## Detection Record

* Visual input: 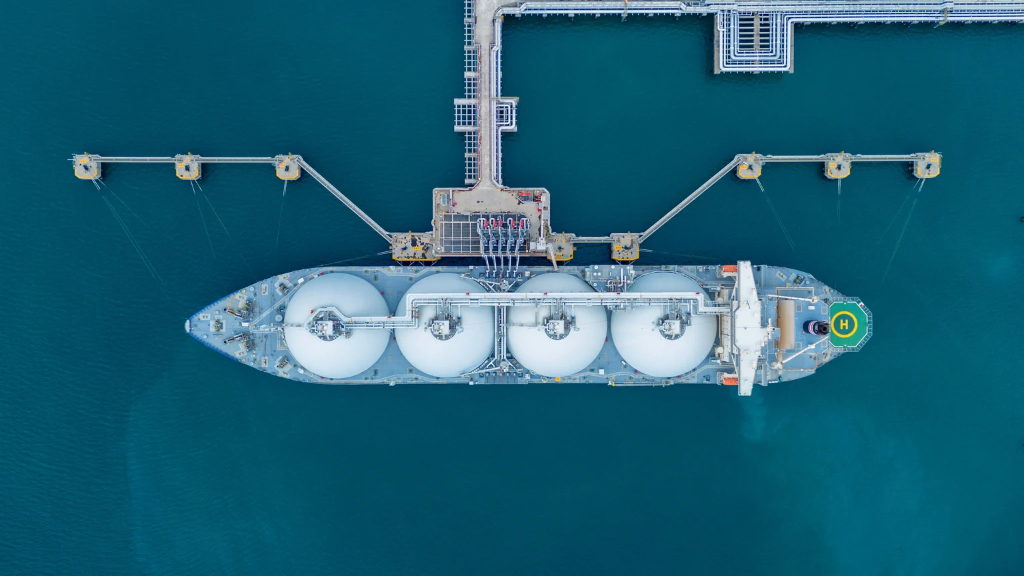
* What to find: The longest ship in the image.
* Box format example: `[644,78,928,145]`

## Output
[185,261,873,396]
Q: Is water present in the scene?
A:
Yes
